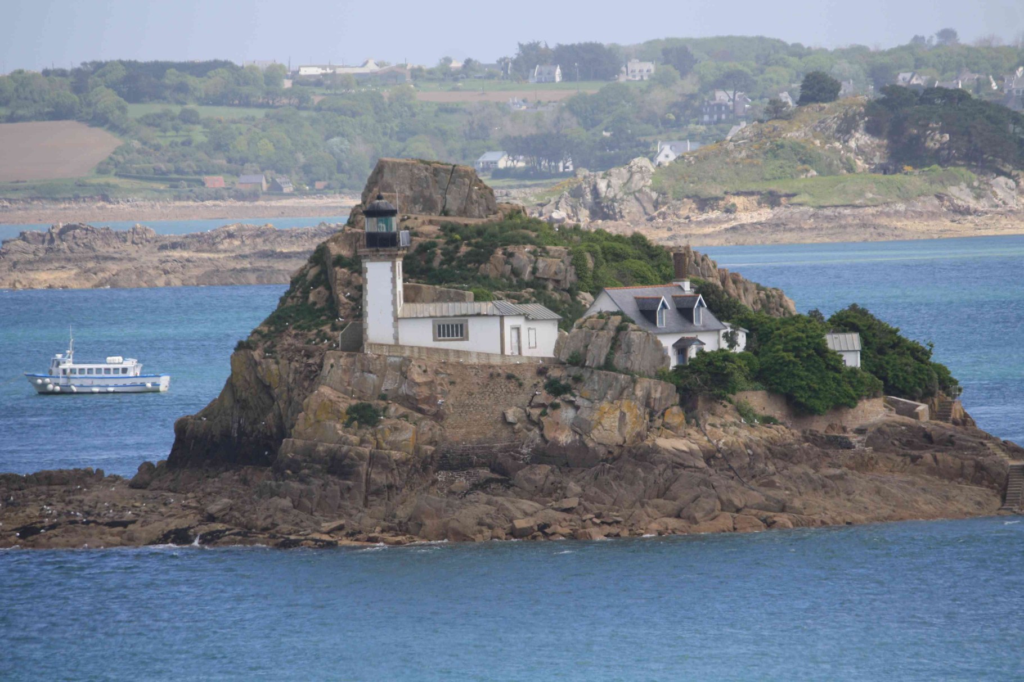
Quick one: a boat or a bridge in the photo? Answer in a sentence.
It is a boat that can be seen here.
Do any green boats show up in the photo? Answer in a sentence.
No, the photo shows no green boat.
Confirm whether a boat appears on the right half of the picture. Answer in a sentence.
No, on the right half of the picture there is no boat.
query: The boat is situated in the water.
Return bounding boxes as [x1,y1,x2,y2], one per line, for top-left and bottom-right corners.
[12,325,172,393]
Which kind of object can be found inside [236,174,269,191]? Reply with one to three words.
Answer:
barn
